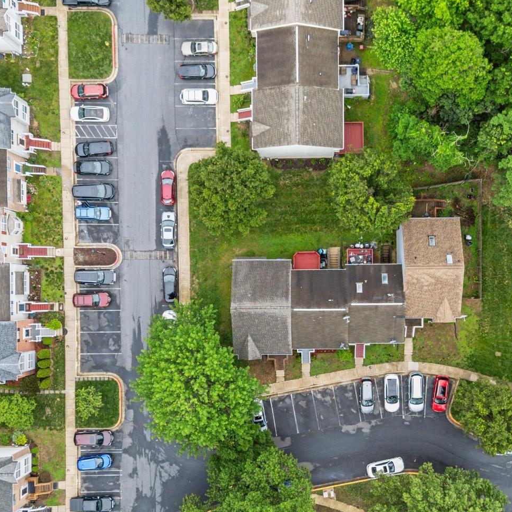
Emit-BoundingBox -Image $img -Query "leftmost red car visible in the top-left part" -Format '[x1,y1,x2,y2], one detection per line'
[73,82,110,101]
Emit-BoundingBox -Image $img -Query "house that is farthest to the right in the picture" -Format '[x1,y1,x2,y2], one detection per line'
[397,198,465,337]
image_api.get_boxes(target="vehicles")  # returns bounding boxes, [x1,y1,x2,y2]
[76,139,115,157]
[180,86,219,105]
[358,376,376,414]
[74,158,113,176]
[74,291,113,309]
[76,199,113,222]
[70,494,116,512]
[73,181,116,200]
[75,429,115,448]
[382,373,400,412]
[61,0,112,7]
[161,310,179,344]
[179,62,217,81]
[182,39,219,58]
[366,455,405,477]
[75,268,117,287]
[73,82,110,101]
[159,170,177,206]
[78,453,114,471]
[73,105,111,123]
[407,371,426,412]
[159,211,177,249]
[431,374,449,412]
